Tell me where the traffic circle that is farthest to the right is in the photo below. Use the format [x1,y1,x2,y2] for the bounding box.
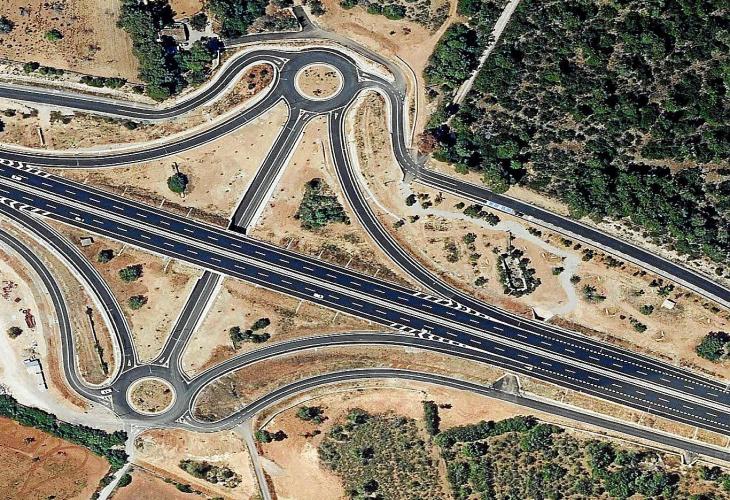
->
[258,49,390,139]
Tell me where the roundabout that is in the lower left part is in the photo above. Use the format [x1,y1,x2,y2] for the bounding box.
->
[85,340,223,435]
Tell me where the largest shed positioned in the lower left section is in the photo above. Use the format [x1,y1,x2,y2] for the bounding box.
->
[25,360,46,389]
